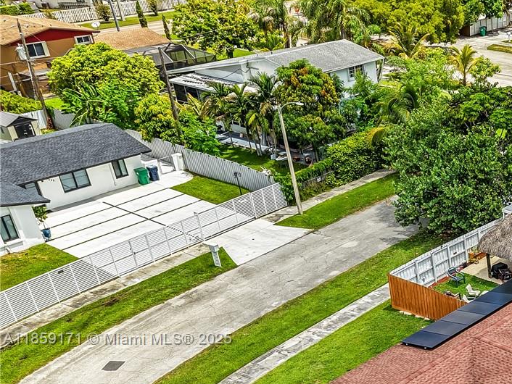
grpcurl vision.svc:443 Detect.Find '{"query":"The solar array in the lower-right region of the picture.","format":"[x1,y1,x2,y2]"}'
[402,279,512,345]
